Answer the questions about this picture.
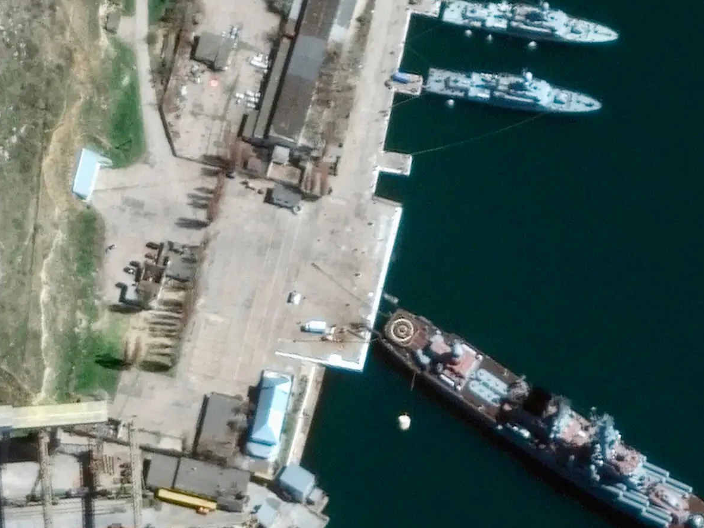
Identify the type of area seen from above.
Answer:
port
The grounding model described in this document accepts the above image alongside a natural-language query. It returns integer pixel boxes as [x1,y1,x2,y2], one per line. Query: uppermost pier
[411,0,441,19]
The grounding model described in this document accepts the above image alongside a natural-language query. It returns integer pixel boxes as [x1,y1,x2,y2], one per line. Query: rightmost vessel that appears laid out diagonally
[382,312,704,528]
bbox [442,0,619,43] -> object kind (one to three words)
ship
